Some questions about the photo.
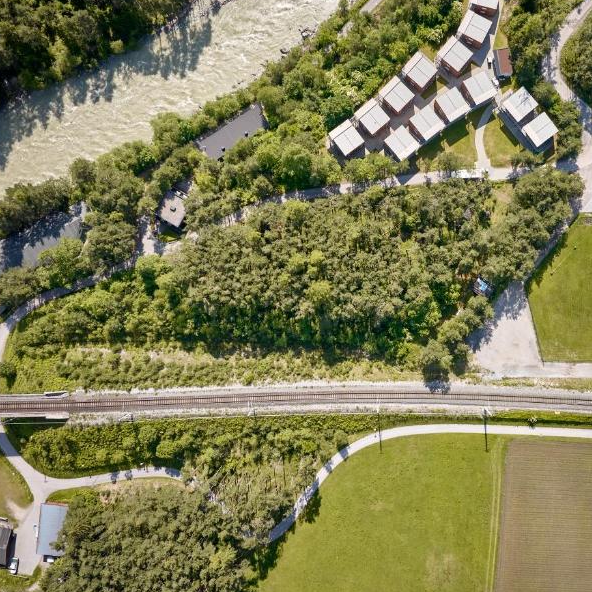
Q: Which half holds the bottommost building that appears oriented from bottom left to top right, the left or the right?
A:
left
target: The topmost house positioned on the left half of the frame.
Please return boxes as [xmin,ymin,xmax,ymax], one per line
[195,103,269,160]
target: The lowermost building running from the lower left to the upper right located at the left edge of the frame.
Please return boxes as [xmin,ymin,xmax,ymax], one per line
[4,210,86,283]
